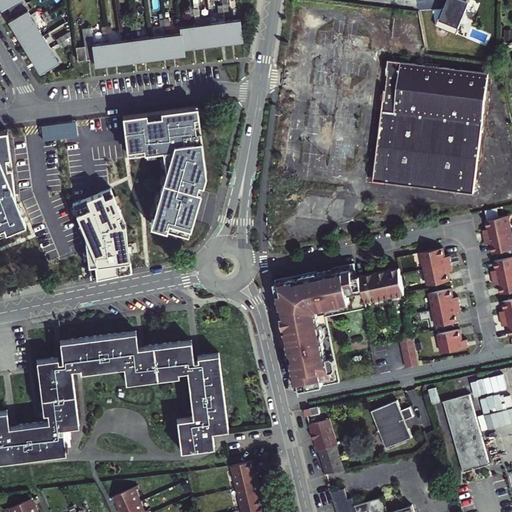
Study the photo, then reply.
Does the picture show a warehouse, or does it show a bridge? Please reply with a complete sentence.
Looking from above, you can make out a warehouse.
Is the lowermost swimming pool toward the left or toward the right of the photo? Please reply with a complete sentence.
It is on the right.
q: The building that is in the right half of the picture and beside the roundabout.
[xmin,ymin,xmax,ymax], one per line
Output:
[276,270,347,390]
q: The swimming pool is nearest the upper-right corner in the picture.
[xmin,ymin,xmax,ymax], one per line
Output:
[466,26,491,46]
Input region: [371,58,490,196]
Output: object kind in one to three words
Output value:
warehouse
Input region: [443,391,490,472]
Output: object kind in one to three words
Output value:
shed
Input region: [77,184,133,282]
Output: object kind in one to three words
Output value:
building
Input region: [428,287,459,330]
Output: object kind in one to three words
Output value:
house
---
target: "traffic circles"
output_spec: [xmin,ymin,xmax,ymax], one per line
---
[196,238,257,297]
